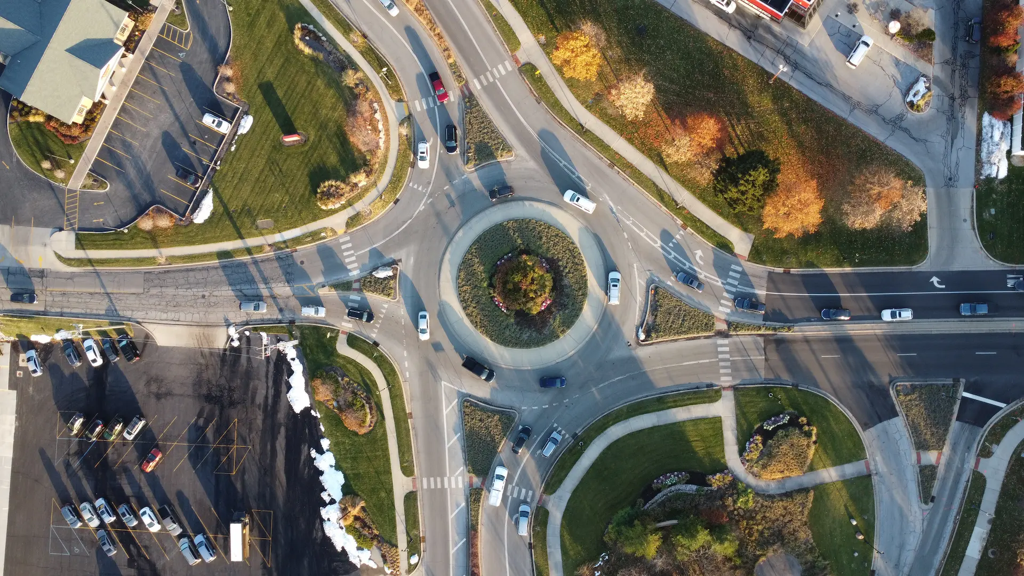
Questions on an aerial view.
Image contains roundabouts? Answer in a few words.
Yes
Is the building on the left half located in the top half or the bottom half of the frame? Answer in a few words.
top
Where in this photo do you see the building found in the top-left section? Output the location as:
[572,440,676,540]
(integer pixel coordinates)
[0,0,134,124]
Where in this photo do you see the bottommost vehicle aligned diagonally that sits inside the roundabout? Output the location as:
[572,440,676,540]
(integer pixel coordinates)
[460,355,497,383]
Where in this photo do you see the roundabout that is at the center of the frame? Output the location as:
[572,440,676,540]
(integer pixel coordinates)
[404,166,641,402]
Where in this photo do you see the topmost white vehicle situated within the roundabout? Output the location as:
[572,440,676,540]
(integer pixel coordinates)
[562,191,597,214]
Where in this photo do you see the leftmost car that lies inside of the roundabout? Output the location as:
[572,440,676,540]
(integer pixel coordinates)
[416,311,431,340]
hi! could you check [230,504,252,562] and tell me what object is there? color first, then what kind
white truck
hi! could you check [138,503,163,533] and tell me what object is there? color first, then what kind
white car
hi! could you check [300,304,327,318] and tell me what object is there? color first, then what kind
white car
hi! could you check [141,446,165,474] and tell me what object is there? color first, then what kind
red car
